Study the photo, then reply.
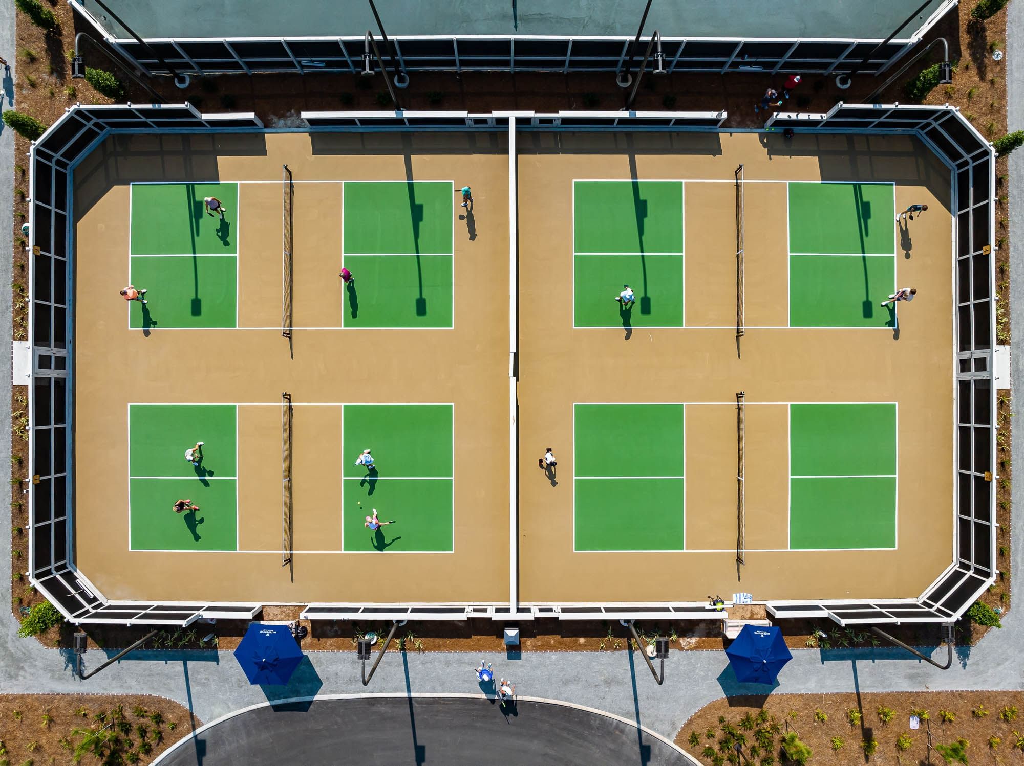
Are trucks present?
No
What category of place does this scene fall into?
sports ground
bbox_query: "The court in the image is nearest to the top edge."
[77,0,948,37]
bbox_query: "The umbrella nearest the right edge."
[723,622,793,686]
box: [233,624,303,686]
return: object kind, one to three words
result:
umbrella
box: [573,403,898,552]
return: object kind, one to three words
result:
sports court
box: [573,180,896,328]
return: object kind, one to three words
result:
sports court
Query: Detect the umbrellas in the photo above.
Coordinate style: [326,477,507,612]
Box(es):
[723,622,793,686]
[233,624,303,686]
